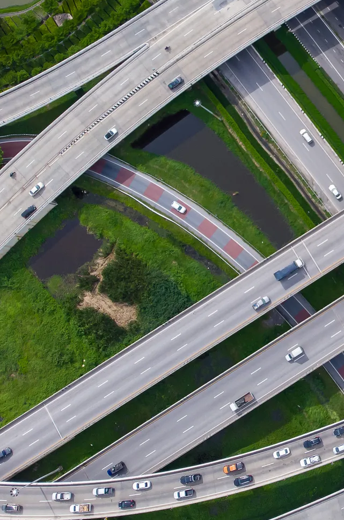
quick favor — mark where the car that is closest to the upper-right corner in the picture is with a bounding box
[299,128,314,144]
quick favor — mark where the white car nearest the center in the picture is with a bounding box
[171,200,187,214]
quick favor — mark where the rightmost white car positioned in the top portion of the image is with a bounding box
[328,185,342,200]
